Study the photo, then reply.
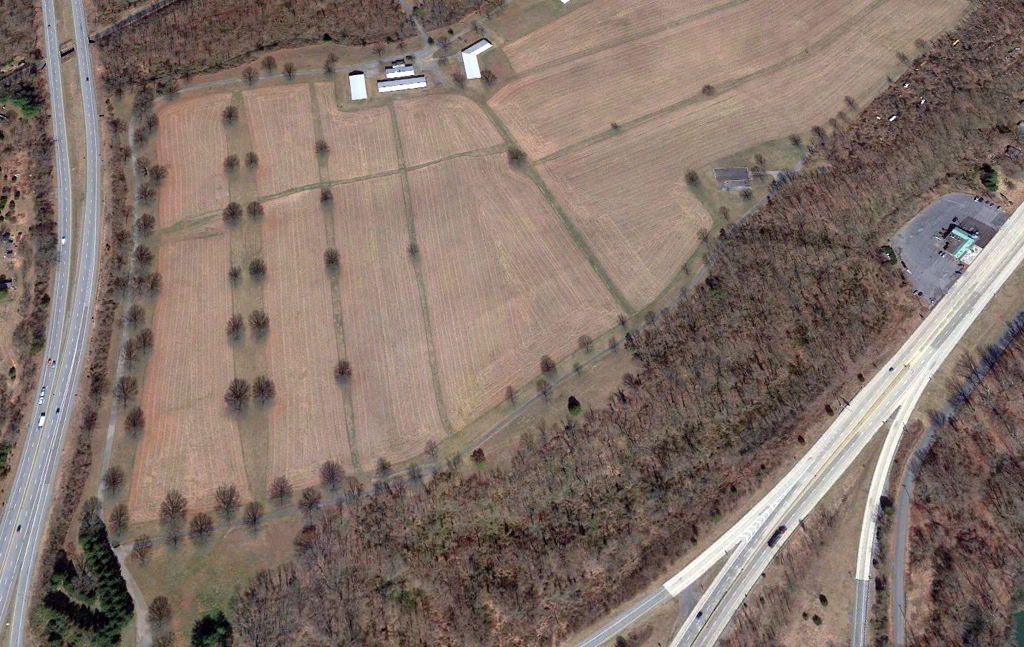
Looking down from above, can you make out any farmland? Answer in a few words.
Yes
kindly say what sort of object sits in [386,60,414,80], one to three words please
barn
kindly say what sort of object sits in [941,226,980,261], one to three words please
building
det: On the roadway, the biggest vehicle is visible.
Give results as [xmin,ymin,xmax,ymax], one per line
[768,527,785,546]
